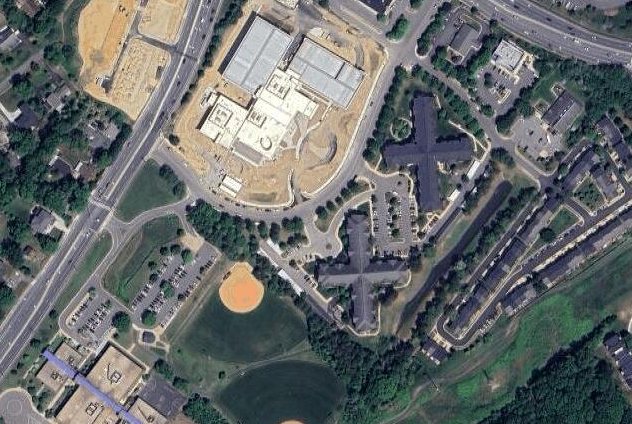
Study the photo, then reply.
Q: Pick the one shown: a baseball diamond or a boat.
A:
baseball diamond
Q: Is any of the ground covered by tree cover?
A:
Yes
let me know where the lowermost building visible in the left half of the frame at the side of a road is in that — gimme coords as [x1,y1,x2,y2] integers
[34,344,165,424]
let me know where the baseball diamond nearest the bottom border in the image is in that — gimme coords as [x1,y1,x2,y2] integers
[219,360,346,424]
